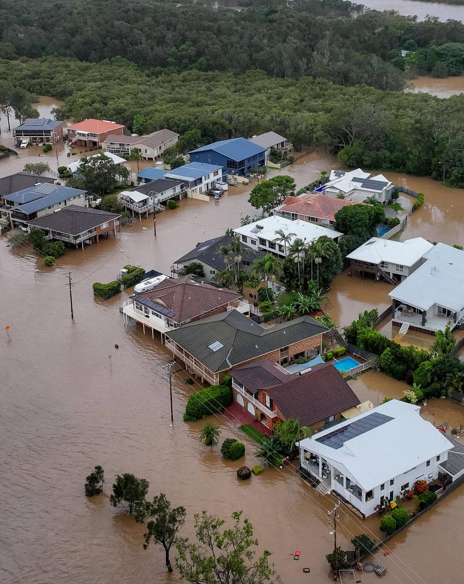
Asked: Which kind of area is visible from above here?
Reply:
residential area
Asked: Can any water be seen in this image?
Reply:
Yes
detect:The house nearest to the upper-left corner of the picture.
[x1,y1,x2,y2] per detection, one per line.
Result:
[13,111,64,145]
